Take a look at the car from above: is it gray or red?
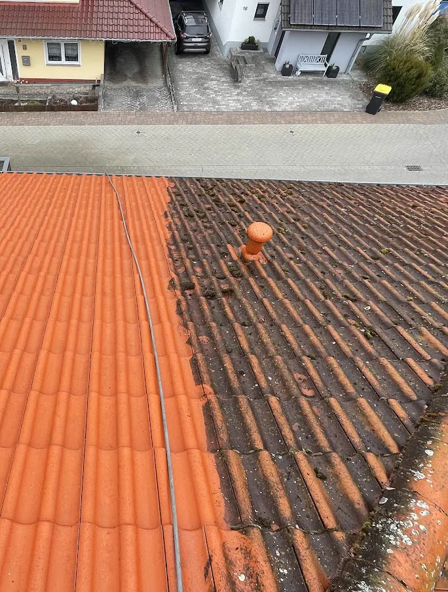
gray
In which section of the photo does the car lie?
top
